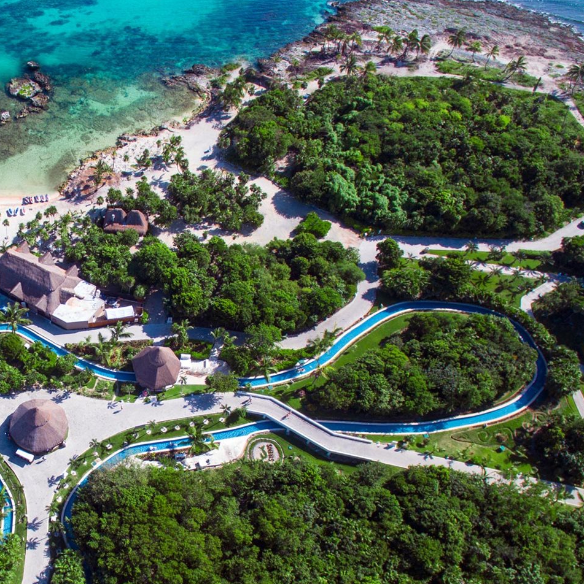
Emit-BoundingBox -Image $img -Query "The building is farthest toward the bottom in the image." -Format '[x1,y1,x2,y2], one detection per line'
[9,404,67,458]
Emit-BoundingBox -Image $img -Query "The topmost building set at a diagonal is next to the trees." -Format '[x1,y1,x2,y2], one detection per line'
[0,242,105,332]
